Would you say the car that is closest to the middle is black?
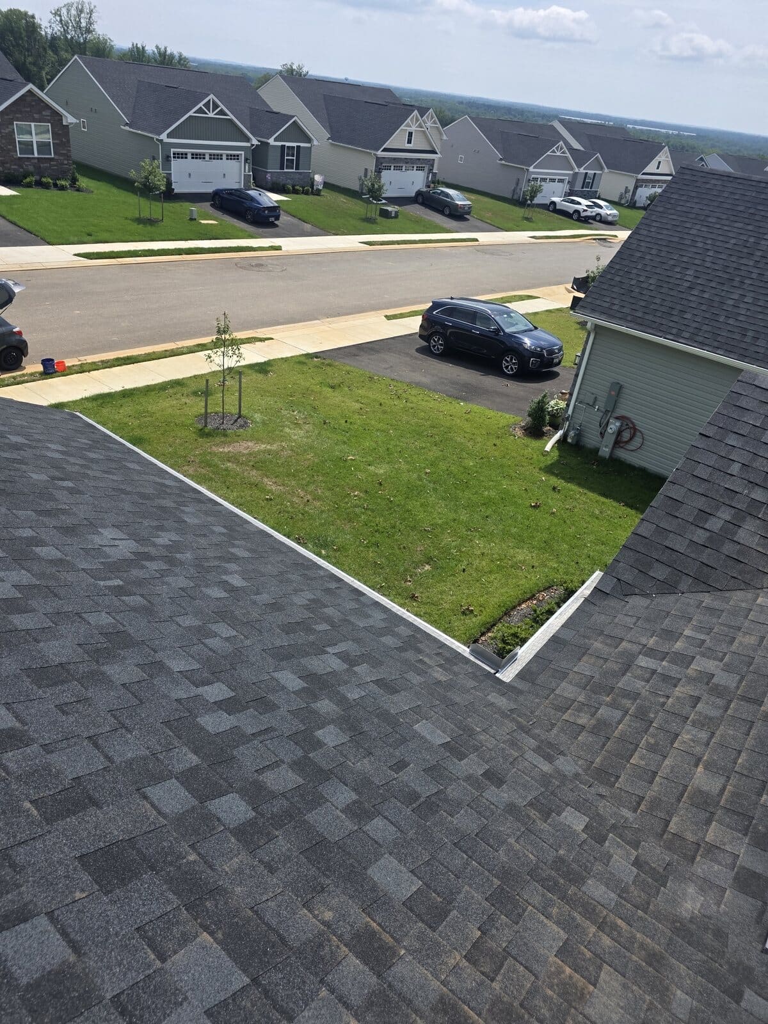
Yes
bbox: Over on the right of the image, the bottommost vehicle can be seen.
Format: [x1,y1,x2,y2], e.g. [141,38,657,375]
[418,297,571,377]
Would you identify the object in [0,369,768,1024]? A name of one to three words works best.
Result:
house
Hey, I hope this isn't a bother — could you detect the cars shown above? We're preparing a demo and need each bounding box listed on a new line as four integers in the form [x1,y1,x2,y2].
[213,189,287,222]
[585,200,616,221]
[545,196,594,219]
[413,187,470,212]
[0,278,28,370]
[418,297,571,377]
